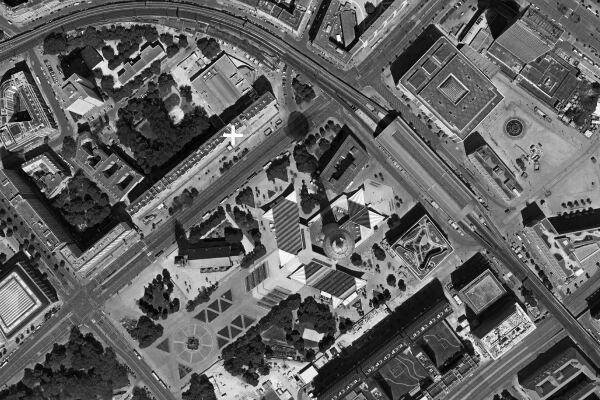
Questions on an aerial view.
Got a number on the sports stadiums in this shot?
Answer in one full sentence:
The count of sports stadiums is 0.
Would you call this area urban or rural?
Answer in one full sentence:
This place is urban.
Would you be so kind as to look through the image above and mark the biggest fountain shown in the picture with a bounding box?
[504,118,523,136]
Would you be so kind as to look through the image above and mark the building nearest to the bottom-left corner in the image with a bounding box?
[0,262,59,339]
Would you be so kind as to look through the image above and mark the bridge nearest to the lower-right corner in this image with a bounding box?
[457,204,600,372]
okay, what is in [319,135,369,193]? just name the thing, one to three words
building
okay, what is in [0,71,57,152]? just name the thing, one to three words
building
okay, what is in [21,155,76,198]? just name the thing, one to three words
house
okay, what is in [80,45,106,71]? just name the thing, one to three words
house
